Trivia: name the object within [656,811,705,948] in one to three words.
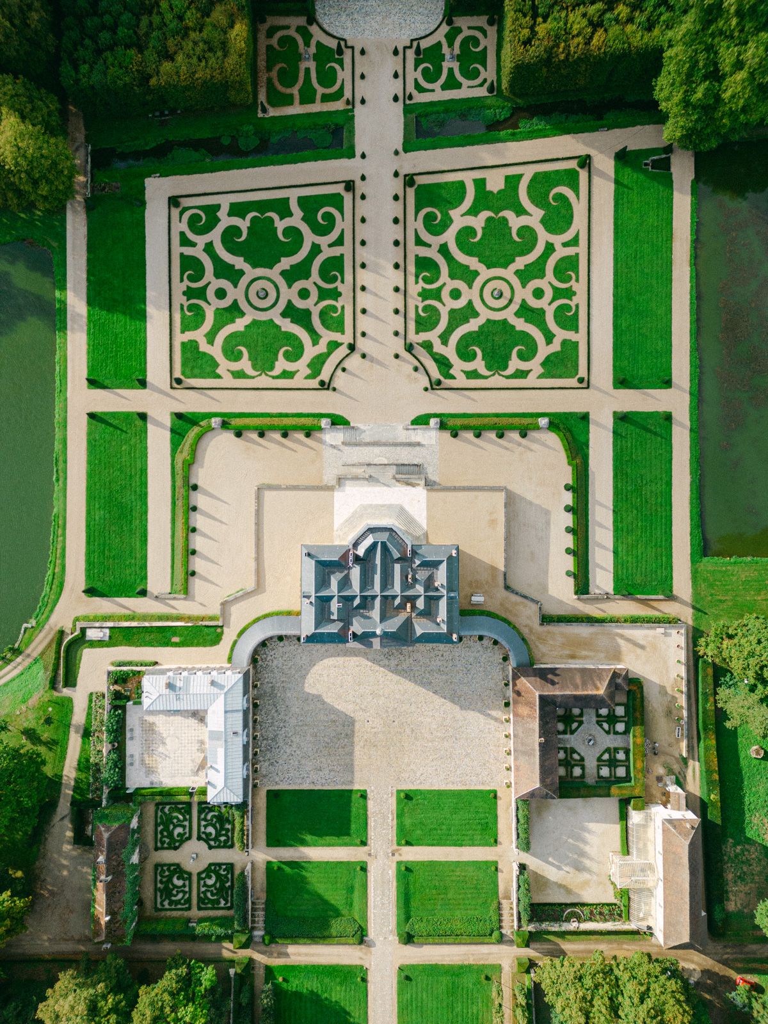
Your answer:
barn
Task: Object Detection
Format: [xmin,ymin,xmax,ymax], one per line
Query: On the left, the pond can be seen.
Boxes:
[0,239,56,645]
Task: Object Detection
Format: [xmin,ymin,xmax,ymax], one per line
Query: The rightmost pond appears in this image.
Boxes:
[695,143,768,555]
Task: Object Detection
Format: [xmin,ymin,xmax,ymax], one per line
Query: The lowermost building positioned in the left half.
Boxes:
[88,800,142,948]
